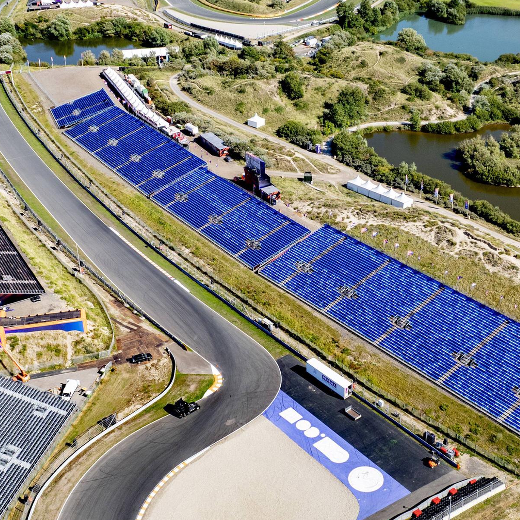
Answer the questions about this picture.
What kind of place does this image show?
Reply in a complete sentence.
What you see here is a sports ground.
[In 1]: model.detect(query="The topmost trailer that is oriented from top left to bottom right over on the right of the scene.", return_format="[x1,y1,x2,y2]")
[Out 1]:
[308,357,353,397]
